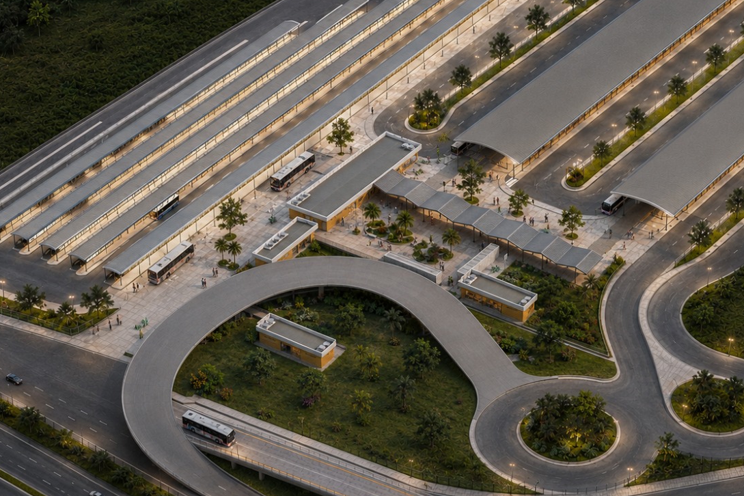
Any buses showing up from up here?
Yes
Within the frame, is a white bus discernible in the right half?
No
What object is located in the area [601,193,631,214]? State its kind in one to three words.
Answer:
bus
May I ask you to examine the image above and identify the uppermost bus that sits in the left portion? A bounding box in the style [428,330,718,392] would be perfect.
[270,152,313,189]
